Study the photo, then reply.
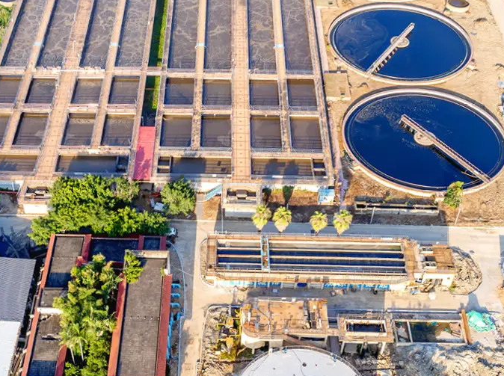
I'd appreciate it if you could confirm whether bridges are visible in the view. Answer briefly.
Yes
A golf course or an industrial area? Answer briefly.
industrial area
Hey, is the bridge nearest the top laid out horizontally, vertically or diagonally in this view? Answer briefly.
diagonally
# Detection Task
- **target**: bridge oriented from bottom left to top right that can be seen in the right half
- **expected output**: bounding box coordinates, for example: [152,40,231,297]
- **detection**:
[364,20,416,77]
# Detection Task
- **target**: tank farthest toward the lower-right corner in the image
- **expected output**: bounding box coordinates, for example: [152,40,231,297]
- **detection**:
[326,309,396,356]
